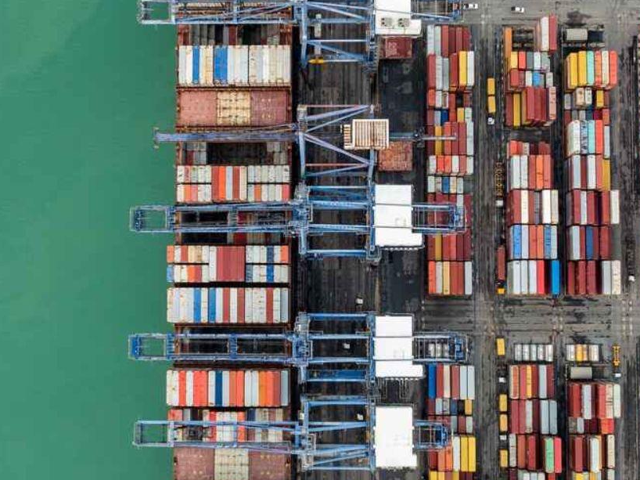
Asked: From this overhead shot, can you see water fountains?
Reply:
No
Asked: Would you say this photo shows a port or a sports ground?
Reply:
port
